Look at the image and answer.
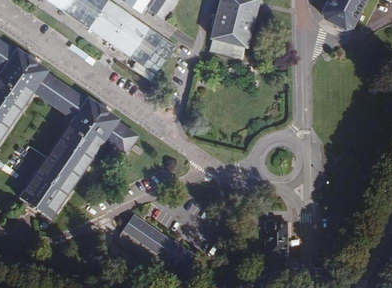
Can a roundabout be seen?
Yes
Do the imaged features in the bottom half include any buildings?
Yes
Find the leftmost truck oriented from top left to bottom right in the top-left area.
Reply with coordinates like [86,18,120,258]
[68,42,96,64]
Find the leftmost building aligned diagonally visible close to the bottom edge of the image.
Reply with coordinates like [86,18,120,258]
[120,212,202,278]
